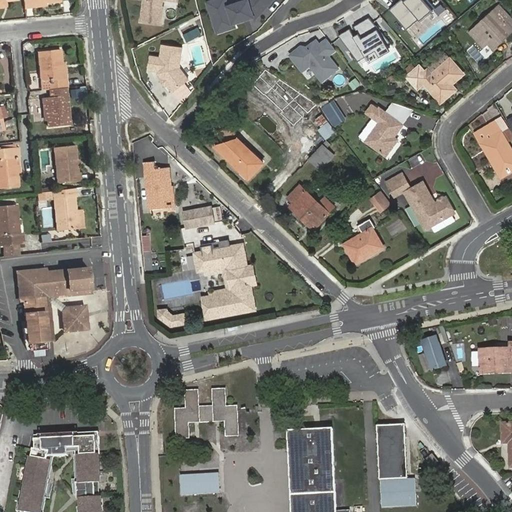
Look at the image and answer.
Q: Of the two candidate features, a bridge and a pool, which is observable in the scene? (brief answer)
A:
pool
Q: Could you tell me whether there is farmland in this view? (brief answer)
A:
No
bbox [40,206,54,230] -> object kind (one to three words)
swimming pool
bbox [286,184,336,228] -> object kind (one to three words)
house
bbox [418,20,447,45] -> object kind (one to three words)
swimming pool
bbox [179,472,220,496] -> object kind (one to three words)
building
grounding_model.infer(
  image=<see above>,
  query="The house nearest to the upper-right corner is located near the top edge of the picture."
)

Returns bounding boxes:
[469,2,512,52]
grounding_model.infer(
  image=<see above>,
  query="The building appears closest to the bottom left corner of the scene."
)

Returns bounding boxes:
[18,456,49,512]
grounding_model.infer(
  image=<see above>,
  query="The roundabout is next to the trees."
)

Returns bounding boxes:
[100,336,162,399]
